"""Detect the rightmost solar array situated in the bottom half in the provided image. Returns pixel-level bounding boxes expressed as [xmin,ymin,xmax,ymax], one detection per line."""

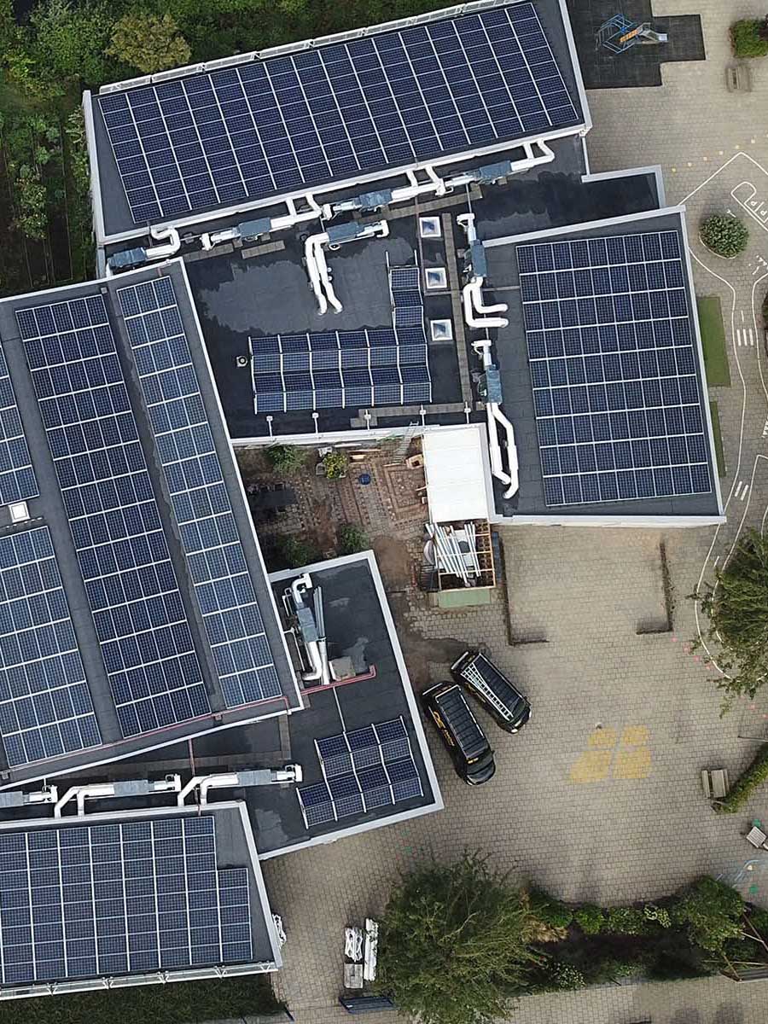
[296,715,417,822]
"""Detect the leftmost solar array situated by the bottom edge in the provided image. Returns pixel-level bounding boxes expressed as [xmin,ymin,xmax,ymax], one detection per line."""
[0,816,252,984]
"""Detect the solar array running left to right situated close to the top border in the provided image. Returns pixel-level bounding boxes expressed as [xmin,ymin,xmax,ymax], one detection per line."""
[98,3,579,222]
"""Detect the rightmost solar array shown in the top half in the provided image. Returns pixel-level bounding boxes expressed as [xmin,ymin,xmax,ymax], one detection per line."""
[517,230,711,506]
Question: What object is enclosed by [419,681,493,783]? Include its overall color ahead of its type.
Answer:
black van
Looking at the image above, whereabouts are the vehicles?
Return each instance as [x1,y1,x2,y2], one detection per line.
[449,649,530,733]
[419,681,493,783]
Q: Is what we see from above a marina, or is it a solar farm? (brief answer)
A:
solar farm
